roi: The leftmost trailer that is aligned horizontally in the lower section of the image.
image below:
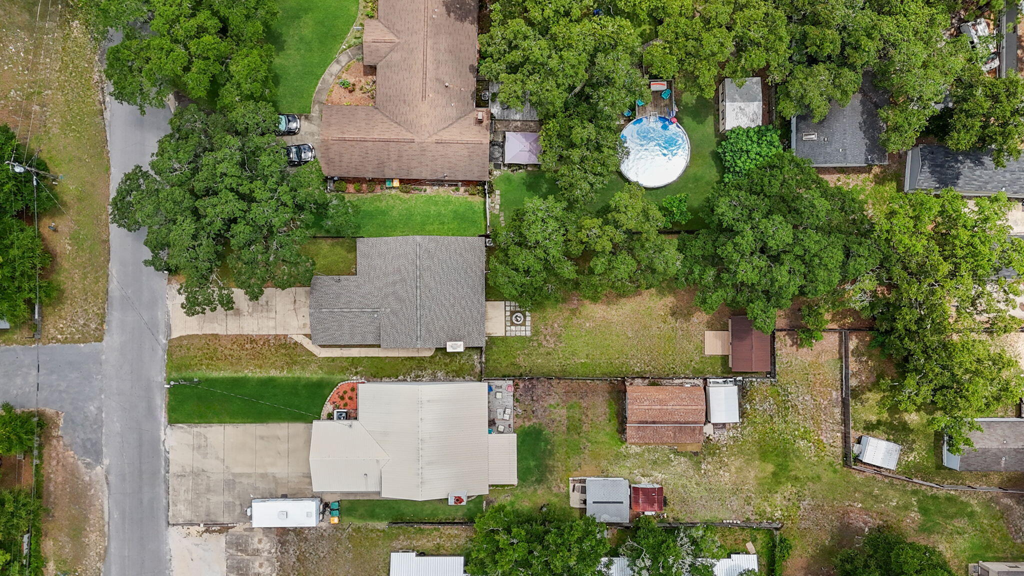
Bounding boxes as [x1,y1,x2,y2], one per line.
[243,490,326,527]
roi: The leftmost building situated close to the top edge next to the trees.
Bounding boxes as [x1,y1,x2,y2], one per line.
[320,0,489,182]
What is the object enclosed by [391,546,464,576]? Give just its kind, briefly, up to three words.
house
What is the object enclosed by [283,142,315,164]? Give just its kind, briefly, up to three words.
car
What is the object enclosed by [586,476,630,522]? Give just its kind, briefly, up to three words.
shed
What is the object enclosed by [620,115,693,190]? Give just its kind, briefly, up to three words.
swimming pool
